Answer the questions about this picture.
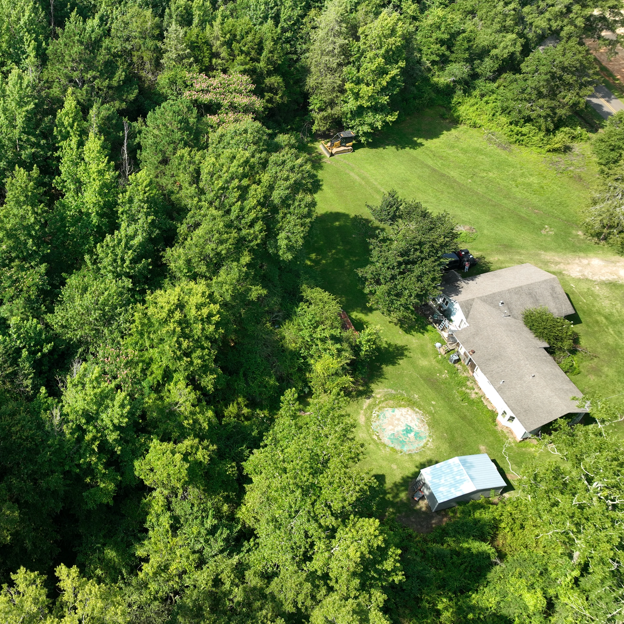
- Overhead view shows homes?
Yes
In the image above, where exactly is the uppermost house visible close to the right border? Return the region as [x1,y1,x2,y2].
[435,263,595,443]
